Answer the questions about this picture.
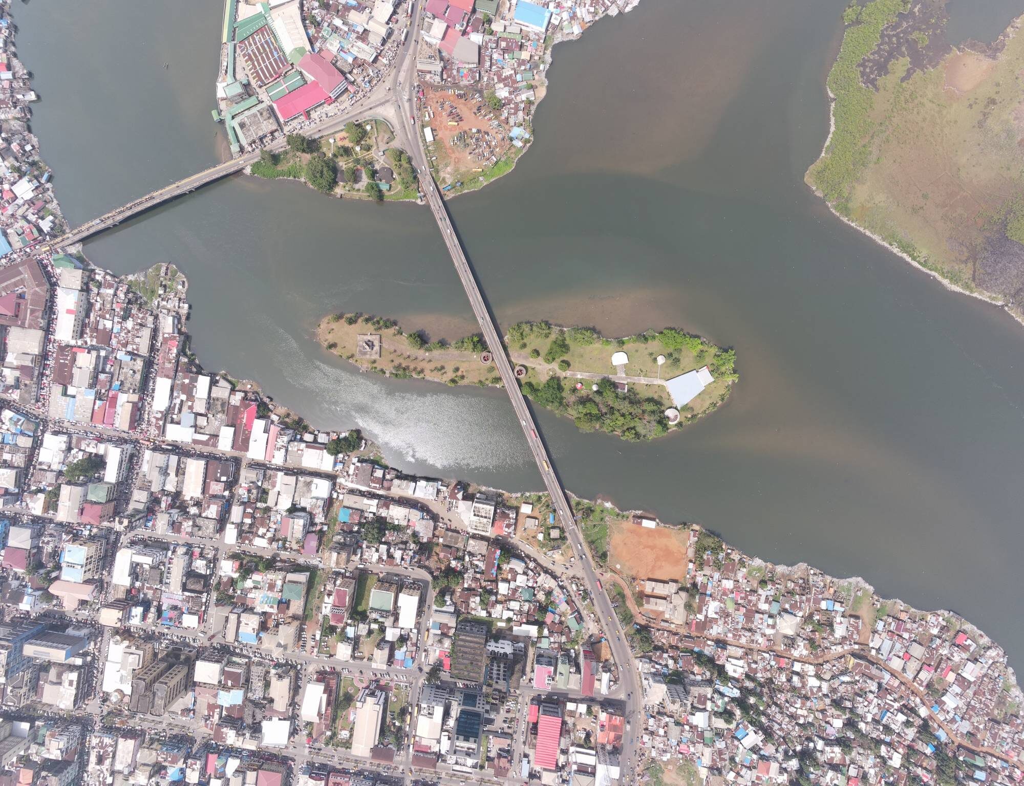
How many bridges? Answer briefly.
two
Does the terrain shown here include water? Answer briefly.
Yes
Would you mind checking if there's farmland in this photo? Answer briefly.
No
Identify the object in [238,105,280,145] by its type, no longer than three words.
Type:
house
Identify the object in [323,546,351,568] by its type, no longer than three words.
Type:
building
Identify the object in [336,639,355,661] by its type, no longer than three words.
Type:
building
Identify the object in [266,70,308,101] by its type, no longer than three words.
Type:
house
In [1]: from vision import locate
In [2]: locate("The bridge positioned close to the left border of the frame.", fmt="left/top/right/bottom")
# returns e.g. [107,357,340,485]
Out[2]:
[40,155,245,257]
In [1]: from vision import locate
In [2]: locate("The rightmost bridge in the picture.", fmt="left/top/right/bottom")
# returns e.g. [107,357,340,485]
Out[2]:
[417,166,563,498]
